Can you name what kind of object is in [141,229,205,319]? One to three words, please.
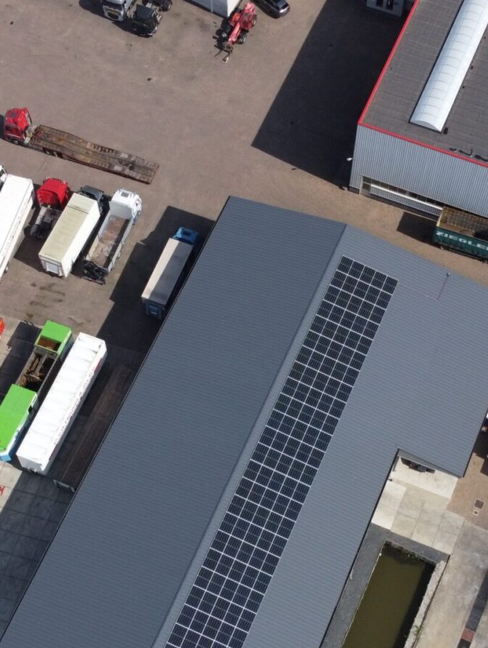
truck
